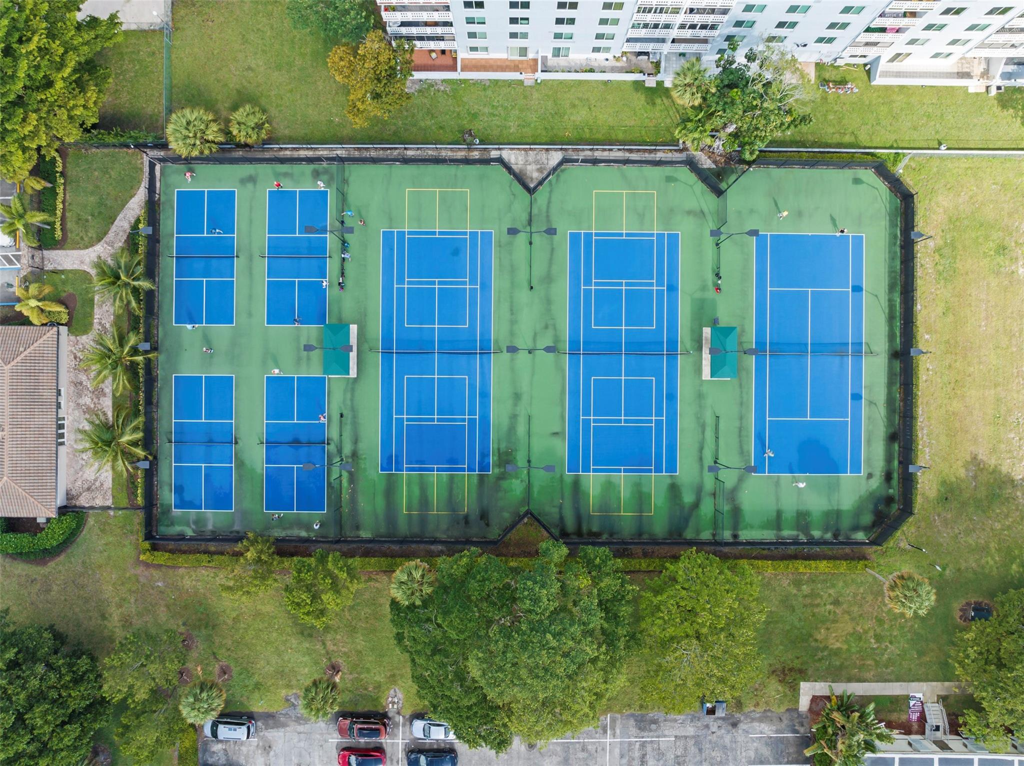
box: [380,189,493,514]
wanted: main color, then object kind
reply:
blue tennis court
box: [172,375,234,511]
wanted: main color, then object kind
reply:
blue sports court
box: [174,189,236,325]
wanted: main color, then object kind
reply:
blue sports court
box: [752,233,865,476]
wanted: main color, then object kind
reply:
blue tennis court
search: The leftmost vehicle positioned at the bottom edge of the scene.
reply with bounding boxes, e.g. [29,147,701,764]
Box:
[203,717,255,744]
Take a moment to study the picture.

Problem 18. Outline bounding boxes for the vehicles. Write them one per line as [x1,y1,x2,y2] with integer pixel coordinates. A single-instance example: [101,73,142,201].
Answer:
[406,749,455,766]
[337,718,388,745]
[0,228,14,248]
[408,719,455,745]
[337,747,385,766]
[203,717,255,744]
